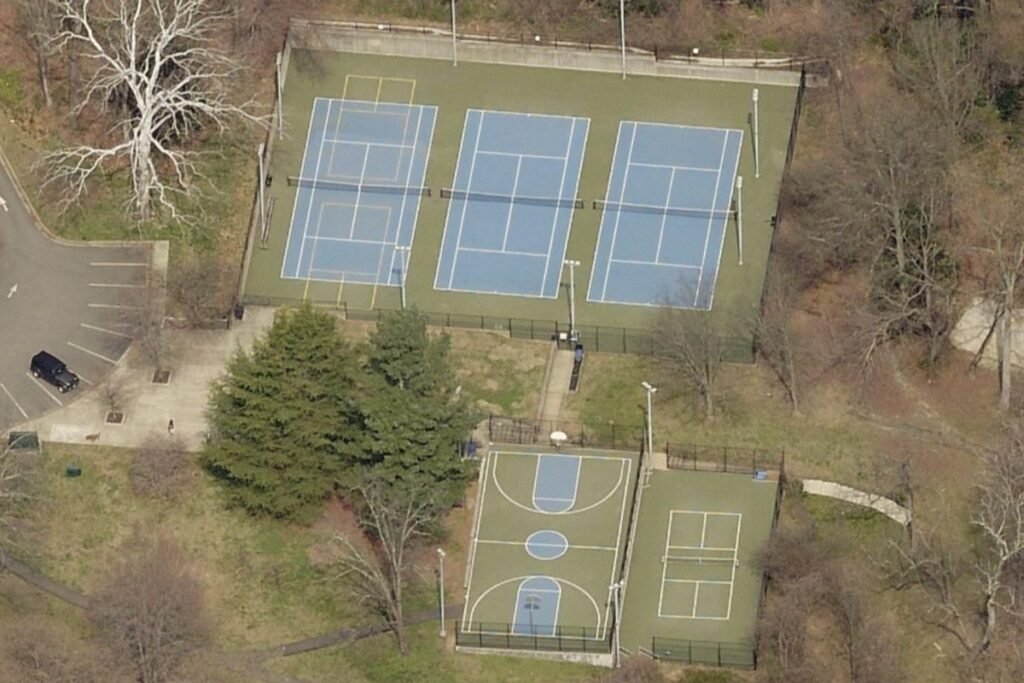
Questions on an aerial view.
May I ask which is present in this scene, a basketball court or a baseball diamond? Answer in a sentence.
The image shows a basketball court.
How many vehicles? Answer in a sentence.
My tally gives 1 vehicle in this photo.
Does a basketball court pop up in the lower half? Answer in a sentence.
Yes, looking in the lower half, one can make out a basketball court.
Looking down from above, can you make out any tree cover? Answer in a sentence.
Yes, the picture does contain tree cover.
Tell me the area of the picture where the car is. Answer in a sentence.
Look in the left portion of the view to spot the car.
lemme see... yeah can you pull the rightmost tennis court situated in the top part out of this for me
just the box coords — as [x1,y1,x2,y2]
[588,121,743,310]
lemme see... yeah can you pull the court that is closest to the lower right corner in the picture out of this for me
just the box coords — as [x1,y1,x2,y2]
[658,511,742,620]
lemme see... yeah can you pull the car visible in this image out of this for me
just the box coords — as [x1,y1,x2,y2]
[30,348,79,390]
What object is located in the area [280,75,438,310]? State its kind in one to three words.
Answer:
tennis court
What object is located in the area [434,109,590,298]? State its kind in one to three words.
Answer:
tennis court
